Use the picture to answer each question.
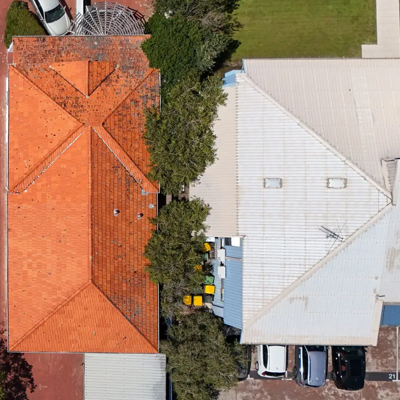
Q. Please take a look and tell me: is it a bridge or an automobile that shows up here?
automobile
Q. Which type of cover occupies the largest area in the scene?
buildings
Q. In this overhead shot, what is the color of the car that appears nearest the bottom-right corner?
black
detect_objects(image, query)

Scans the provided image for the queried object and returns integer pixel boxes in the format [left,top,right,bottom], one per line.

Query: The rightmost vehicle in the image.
[332,347,367,392]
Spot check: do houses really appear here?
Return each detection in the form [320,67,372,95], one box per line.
[185,58,400,348]
[2,35,162,354]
